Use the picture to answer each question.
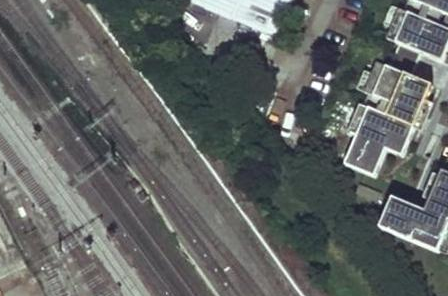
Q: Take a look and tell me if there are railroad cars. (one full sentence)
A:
No, no railroad car can be seen from above.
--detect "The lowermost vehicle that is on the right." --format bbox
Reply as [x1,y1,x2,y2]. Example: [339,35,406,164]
[281,111,296,138]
